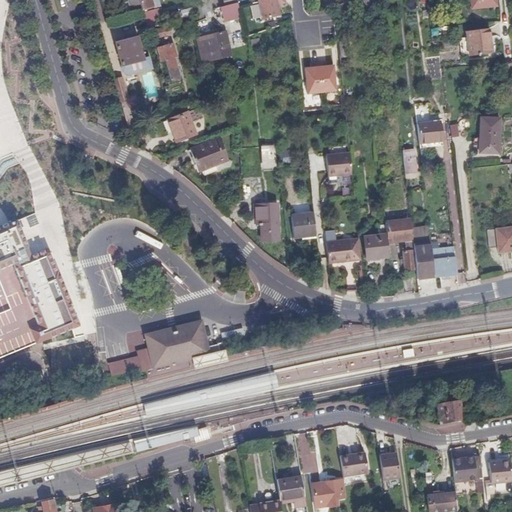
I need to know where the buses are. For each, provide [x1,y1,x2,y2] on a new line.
[172,272,196,294]
[135,228,164,250]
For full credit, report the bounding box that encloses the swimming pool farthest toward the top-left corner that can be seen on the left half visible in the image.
[143,72,158,100]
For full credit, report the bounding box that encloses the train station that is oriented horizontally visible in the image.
[0,318,512,486]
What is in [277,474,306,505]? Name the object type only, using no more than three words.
house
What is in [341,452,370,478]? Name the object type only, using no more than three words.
house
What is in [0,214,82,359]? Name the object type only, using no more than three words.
building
